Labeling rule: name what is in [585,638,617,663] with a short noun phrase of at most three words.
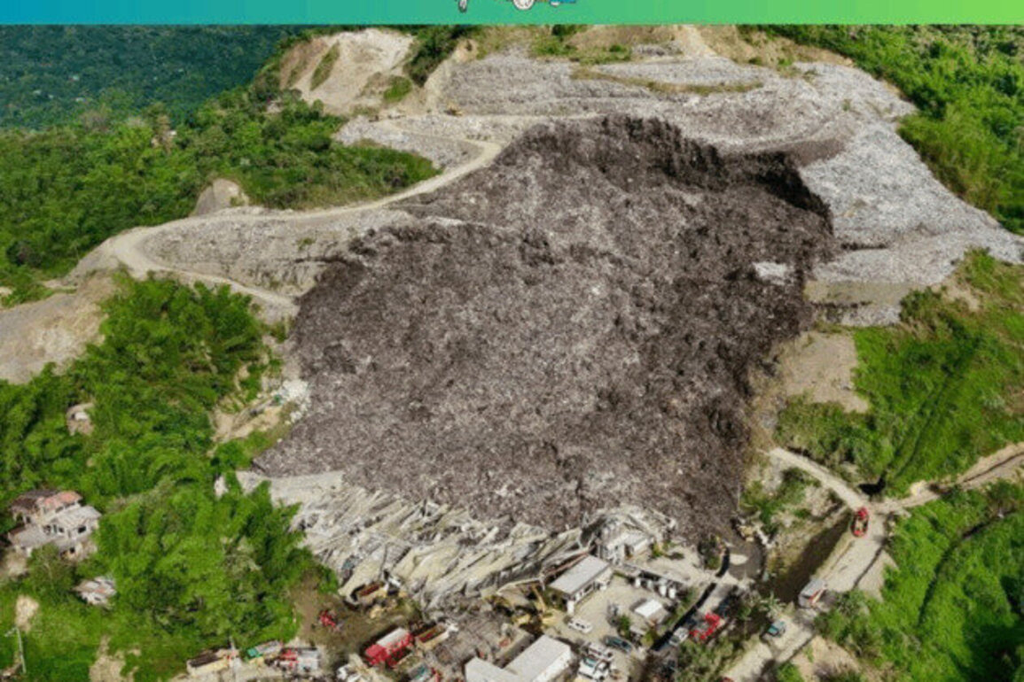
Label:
car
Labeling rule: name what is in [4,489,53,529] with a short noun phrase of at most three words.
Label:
house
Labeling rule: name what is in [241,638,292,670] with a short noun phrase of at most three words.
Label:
truck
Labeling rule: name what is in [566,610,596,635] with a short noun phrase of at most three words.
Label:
vehicle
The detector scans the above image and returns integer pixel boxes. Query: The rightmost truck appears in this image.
[851,498,873,535]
